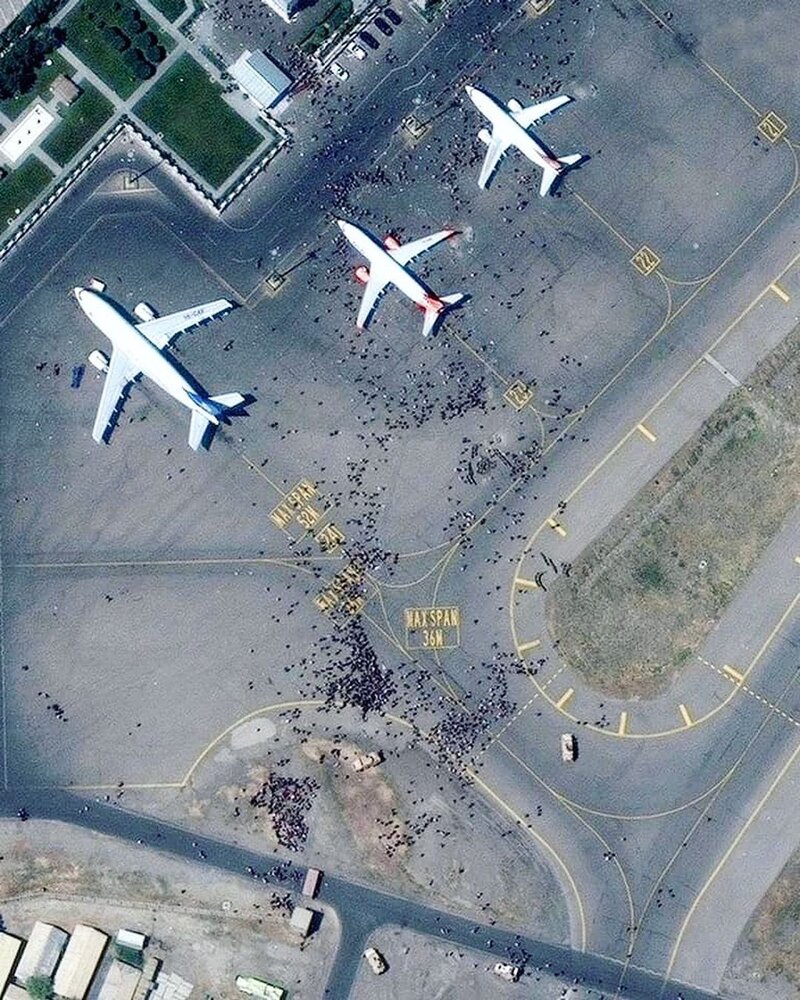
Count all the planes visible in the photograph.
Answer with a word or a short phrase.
3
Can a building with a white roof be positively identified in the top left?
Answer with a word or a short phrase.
Yes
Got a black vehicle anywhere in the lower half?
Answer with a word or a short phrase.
No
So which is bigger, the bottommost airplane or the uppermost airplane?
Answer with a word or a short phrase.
the bottommost airplane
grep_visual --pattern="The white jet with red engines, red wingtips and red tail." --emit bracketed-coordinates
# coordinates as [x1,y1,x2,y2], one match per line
[337,220,464,332]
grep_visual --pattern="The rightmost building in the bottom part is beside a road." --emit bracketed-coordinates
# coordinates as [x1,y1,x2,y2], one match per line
[290,905,314,935]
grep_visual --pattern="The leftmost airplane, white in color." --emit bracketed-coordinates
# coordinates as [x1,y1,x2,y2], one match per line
[73,289,245,448]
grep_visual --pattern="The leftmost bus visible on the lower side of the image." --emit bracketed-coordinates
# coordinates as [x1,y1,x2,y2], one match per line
[235,975,283,1000]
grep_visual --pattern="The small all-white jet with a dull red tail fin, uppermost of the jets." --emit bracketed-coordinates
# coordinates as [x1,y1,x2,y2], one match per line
[465,87,584,194]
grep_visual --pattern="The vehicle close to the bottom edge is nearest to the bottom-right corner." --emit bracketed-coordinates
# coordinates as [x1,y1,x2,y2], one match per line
[493,964,520,980]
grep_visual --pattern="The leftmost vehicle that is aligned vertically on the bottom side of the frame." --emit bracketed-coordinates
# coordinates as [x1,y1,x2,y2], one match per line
[303,868,318,898]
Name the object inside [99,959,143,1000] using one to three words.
building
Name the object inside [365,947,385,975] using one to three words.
vehicle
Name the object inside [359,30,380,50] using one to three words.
car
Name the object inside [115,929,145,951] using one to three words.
shed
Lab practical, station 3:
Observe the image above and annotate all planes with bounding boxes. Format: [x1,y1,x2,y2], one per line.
[337,220,464,332]
[465,87,584,194]
[73,289,245,448]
